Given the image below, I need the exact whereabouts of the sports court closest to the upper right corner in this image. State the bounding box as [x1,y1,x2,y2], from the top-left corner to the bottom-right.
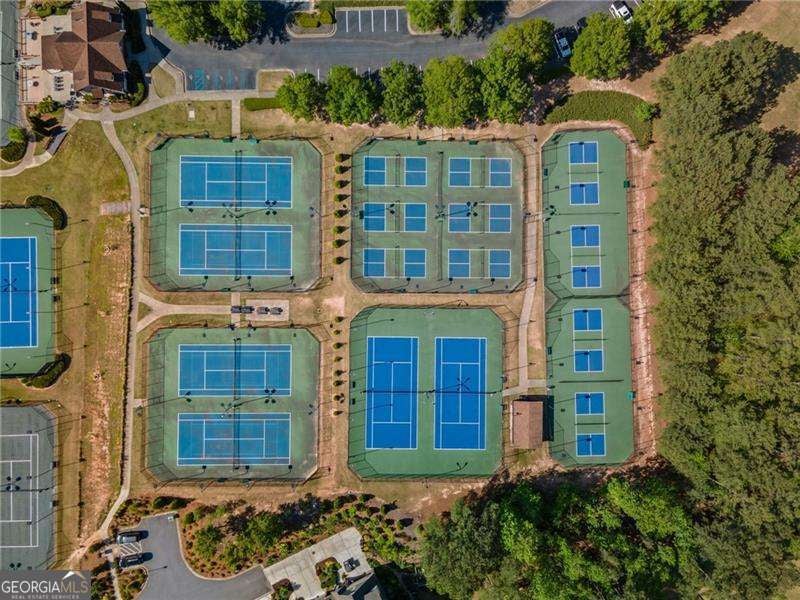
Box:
[569,142,602,205]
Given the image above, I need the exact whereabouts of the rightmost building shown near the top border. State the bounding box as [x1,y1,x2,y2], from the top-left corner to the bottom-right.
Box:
[41,0,132,104]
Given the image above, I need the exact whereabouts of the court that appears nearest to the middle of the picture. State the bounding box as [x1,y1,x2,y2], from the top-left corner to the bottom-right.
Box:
[363,247,427,279]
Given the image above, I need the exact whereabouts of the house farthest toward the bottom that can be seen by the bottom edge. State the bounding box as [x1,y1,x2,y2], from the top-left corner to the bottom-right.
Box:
[321,563,391,600]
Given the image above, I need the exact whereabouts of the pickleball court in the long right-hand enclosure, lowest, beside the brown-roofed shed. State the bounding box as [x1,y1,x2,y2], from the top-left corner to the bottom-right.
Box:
[574,392,608,456]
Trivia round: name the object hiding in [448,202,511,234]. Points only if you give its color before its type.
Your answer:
blue sports court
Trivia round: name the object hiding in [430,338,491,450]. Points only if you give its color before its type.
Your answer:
blue tennis court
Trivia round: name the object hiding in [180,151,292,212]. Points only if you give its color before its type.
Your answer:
blue tennis court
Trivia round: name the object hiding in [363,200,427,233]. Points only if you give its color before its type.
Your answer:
blue sports court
